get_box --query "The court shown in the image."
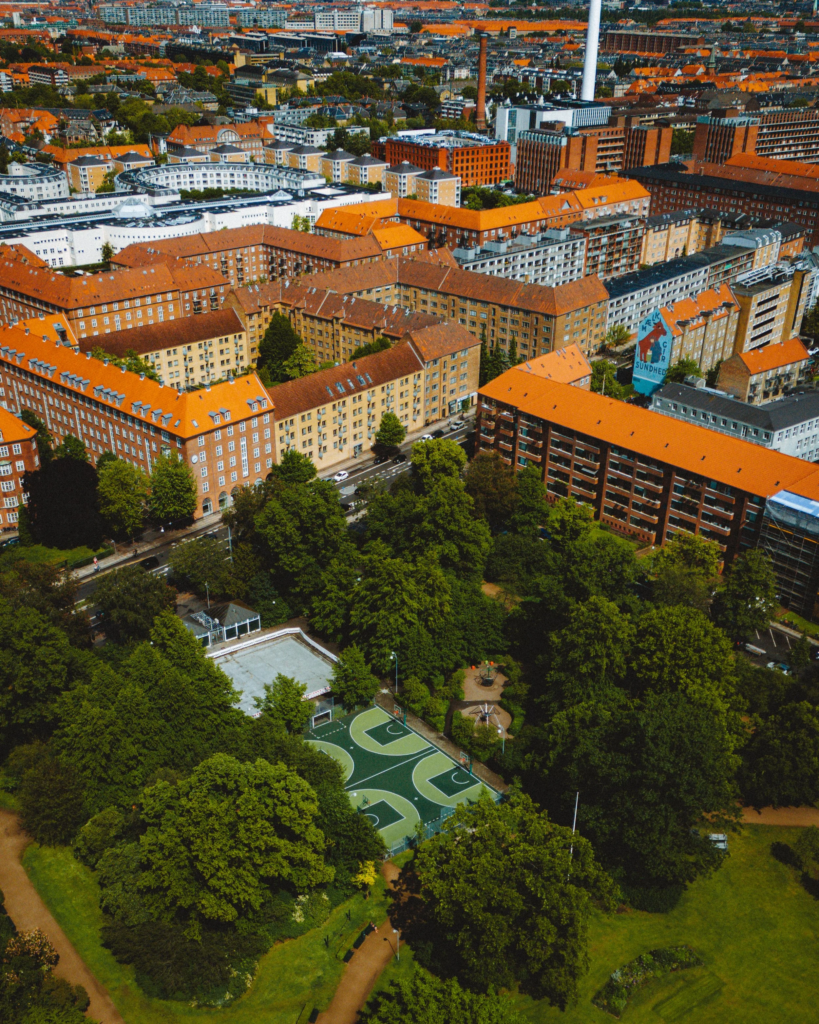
[279,702,509,857]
